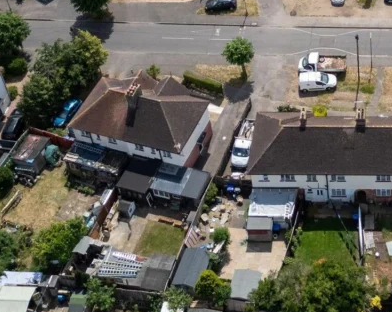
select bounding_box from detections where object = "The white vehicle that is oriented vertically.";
[231,122,256,165]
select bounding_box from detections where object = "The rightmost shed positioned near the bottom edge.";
[231,264,262,312]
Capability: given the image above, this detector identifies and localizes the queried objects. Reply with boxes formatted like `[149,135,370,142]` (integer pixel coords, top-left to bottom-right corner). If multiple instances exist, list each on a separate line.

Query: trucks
[231,122,256,165]
[297,51,349,76]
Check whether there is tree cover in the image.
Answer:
Yes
